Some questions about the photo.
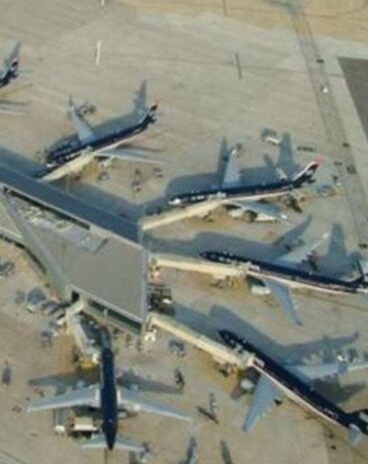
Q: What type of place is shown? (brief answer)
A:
airport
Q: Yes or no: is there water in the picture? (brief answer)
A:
No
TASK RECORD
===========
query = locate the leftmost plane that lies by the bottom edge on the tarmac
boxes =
[26,347,193,452]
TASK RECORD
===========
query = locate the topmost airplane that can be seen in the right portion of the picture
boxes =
[169,150,324,225]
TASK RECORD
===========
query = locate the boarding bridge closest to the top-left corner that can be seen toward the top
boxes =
[37,143,94,188]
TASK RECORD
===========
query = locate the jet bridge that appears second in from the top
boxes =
[136,188,232,234]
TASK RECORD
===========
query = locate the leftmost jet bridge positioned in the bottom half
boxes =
[63,296,111,365]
